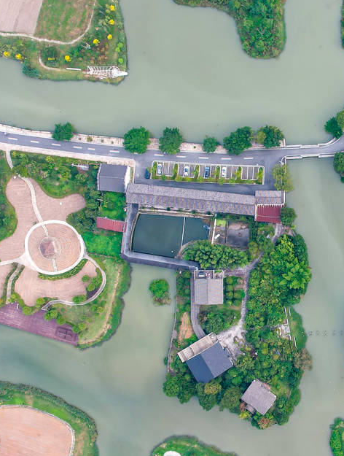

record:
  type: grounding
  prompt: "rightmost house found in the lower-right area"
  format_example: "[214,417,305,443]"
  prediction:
[239,377,278,415]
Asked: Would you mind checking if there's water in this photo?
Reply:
Yes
